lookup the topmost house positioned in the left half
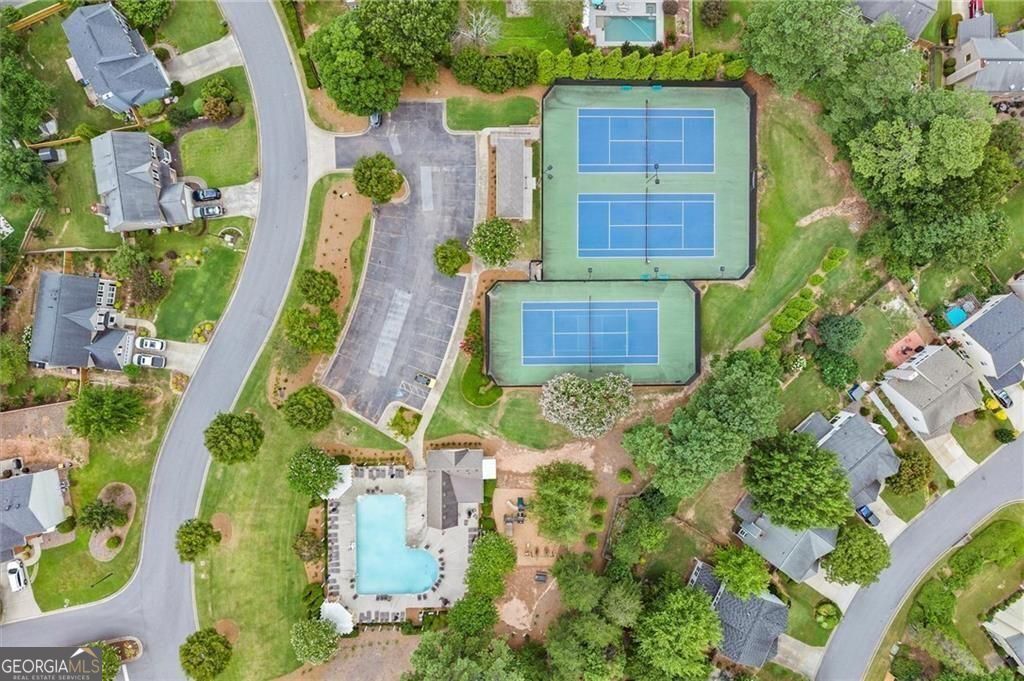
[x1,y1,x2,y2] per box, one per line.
[60,0,182,118]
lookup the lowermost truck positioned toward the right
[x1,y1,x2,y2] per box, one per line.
[858,503,887,532]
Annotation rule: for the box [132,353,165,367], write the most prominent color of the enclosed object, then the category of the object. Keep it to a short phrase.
white vehicle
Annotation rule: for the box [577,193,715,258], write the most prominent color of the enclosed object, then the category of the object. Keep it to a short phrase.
blue tennis court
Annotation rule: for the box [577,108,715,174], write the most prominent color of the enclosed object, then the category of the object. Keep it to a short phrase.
blue tennis court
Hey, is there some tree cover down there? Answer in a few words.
Yes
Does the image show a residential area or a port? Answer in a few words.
residential area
